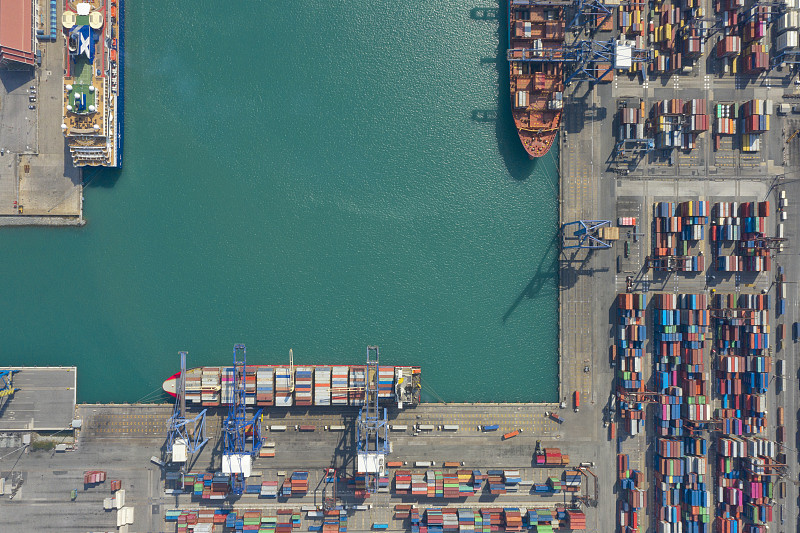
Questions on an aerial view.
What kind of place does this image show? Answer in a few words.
port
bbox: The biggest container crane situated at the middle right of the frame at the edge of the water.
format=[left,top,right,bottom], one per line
[563,220,619,252]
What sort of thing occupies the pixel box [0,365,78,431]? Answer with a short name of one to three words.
pier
